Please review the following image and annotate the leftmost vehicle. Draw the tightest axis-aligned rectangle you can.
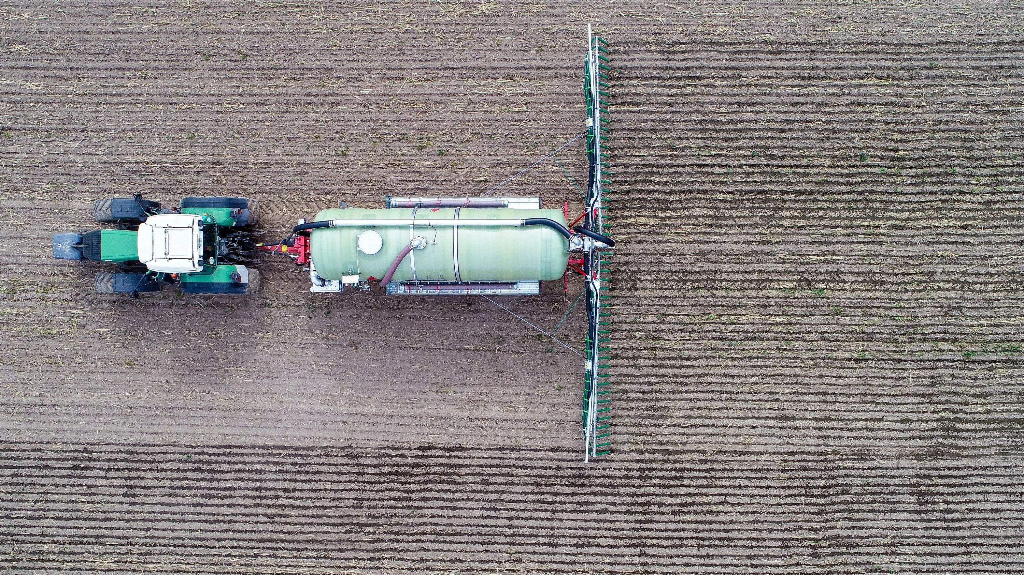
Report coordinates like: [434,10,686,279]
[54,191,267,299]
